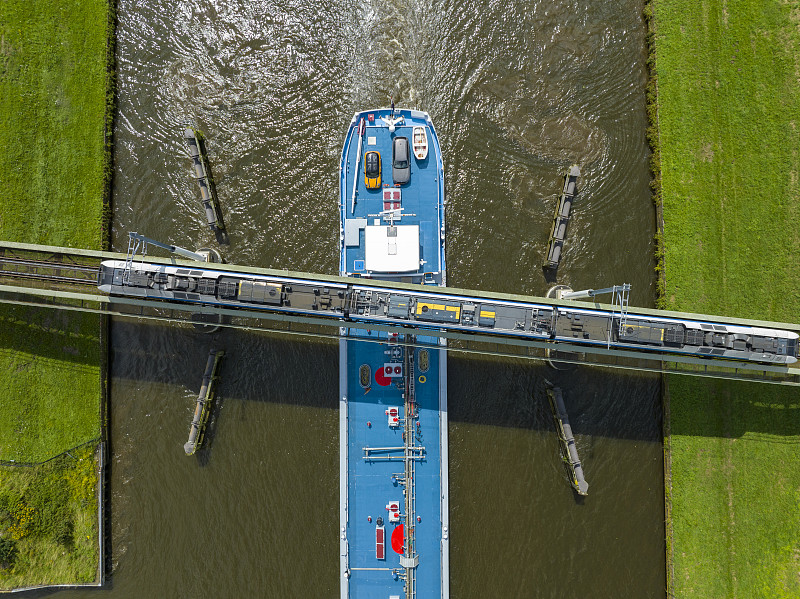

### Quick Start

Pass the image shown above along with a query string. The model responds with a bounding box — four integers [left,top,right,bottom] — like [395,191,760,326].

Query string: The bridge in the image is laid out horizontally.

[0,241,800,387]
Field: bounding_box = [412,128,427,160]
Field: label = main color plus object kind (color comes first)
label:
white boat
